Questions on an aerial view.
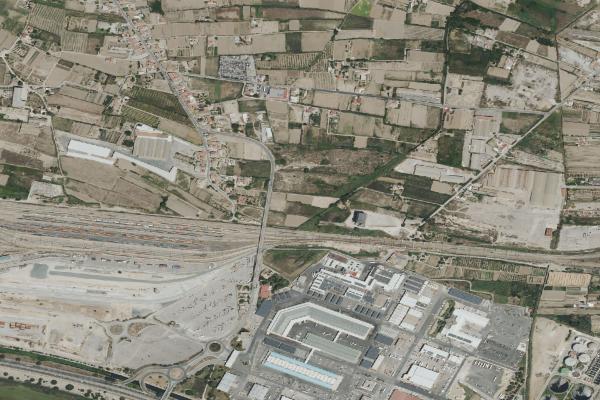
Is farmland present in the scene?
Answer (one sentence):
Yes, there's farmland in this view.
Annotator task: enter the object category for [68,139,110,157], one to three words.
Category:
building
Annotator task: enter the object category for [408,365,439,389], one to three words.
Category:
building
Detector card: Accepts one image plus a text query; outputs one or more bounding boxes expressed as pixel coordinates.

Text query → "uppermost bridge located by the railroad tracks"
[253,184,274,298]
